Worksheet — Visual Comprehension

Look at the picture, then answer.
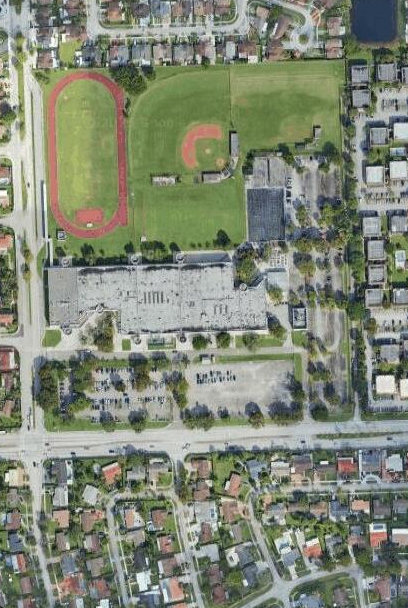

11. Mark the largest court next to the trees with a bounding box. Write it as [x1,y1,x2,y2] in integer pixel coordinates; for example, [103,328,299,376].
[247,187,286,242]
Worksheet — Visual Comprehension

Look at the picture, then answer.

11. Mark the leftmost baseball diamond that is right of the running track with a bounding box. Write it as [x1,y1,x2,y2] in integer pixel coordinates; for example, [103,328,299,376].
[132,69,242,186]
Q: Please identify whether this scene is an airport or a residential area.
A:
residential area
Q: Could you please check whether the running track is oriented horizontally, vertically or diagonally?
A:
vertically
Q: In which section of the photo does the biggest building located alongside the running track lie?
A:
center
